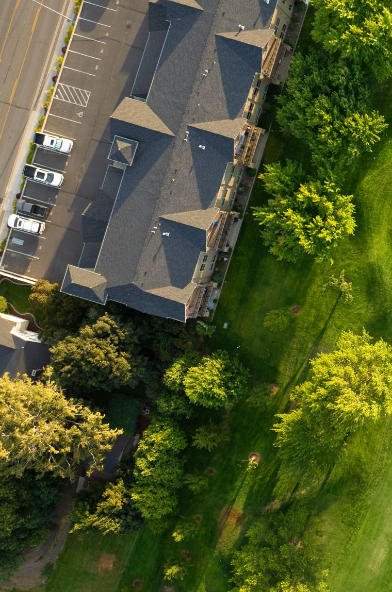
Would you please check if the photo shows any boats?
No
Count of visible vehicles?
4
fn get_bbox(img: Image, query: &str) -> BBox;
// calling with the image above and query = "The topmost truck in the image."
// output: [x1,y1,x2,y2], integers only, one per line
[34,132,76,154]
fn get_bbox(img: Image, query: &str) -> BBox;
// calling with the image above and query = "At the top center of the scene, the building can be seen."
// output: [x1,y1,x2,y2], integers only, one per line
[64,0,311,323]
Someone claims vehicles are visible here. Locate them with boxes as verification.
[15,200,54,220]
[34,132,76,154]
[9,215,48,235]
[24,165,66,187]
